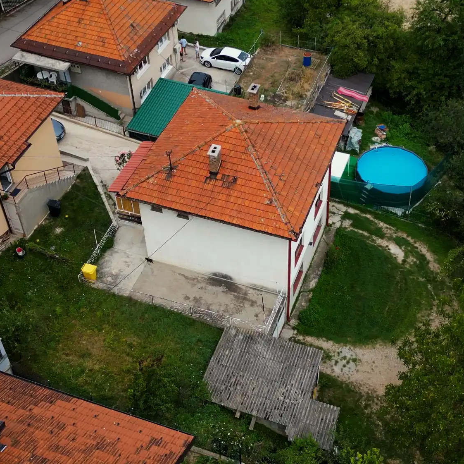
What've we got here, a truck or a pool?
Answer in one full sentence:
This aerial view contains a pool.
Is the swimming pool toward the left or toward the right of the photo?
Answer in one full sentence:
The swimming pool is on the right side of the image.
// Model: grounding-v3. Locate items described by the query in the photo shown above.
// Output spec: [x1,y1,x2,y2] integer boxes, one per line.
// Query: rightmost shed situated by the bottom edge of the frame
[204,327,340,454]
